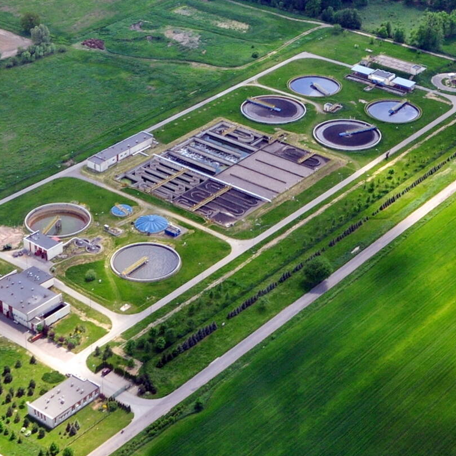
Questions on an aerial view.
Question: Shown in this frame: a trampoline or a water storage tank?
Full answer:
The one in the frame is a water storage tank.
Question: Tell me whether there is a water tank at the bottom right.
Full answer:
No, no water tank can be made out at the bottom right.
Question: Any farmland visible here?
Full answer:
Yes, the picture does contain farmland.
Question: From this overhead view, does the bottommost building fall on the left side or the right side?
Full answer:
You can find the bottommost building on the left side of the picture.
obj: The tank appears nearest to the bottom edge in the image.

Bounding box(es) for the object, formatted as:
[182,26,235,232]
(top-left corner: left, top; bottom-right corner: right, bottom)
[110,243,181,284]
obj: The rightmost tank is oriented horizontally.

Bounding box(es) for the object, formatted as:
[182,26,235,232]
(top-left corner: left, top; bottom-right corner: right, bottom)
[365,100,423,125]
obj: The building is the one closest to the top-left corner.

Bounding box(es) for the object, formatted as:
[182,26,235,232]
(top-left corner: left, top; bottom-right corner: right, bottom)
[88,130,155,172]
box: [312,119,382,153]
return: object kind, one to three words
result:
water tank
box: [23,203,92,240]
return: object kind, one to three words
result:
water tank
